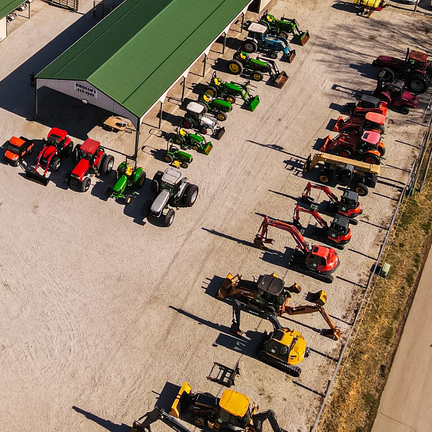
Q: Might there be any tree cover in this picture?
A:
No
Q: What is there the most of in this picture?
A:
paved ground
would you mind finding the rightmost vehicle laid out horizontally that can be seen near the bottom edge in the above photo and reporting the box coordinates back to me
[167,384,286,432]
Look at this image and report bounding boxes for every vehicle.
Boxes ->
[379,72,420,114]
[292,205,351,247]
[291,177,366,222]
[333,85,391,120]
[187,107,224,139]
[61,137,112,192]
[107,160,145,204]
[29,125,74,182]
[173,127,214,155]
[370,49,432,100]
[242,25,298,64]
[287,148,384,200]
[4,138,34,166]
[126,400,201,432]
[228,52,280,87]
[164,144,195,170]
[326,132,393,168]
[198,94,235,120]
[140,167,197,228]
[230,295,318,372]
[261,14,301,41]
[254,214,344,285]
[201,75,254,111]
[215,270,344,334]
[167,384,286,432]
